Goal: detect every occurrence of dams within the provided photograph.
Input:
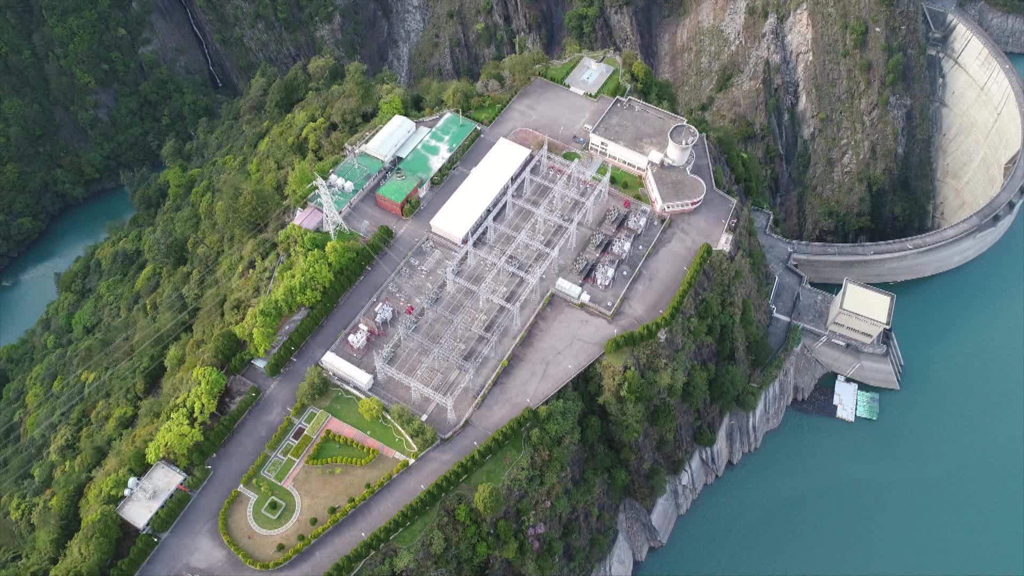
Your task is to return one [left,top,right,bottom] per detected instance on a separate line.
[786,14,1024,288]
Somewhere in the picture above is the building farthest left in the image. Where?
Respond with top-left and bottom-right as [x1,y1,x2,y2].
[115,462,192,537]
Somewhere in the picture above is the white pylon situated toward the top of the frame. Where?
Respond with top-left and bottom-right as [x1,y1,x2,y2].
[309,173,346,244]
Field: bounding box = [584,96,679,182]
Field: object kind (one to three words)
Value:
building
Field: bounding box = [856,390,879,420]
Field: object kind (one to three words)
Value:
pier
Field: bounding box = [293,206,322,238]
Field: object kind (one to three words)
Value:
shed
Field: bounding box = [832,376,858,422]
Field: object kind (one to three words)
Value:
pier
